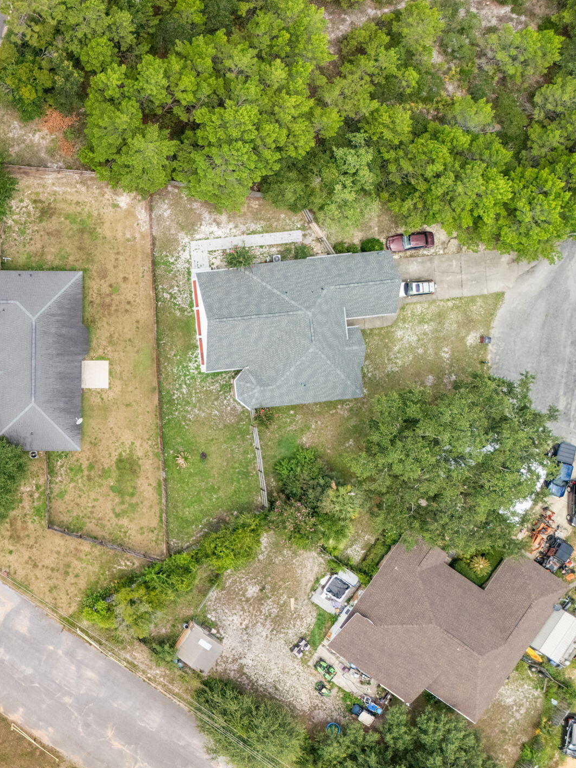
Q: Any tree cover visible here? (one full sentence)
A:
Yes, there is tree cover in the image.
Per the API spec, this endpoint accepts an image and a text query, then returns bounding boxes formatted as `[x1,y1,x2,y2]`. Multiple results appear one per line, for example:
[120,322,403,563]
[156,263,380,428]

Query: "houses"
[0,270,89,451]
[187,252,401,411]
[327,531,568,723]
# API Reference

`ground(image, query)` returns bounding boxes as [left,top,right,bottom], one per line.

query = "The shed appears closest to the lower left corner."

[175,619,223,675]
